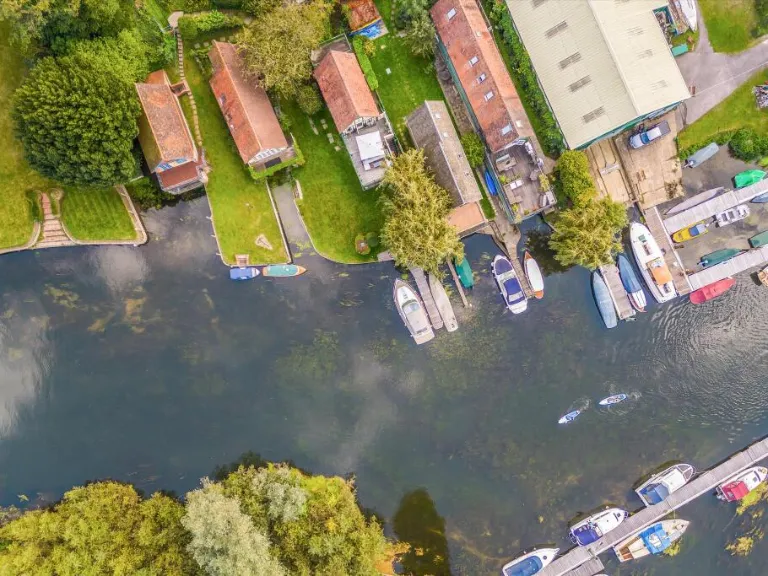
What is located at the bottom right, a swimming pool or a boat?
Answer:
boat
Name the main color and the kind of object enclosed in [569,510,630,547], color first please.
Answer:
white boat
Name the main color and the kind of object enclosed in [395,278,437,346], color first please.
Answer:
white boat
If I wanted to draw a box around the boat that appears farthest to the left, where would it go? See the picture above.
[230,263,260,279]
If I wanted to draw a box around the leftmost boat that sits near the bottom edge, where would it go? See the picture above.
[503,547,569,576]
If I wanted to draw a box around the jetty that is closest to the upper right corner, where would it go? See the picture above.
[731,174,768,203]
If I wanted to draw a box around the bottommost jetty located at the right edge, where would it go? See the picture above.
[541,433,768,576]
